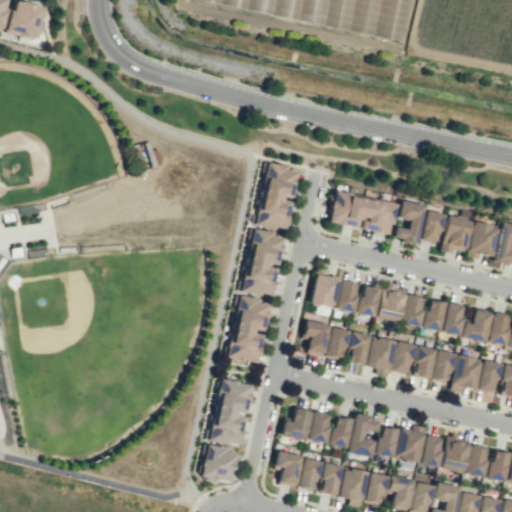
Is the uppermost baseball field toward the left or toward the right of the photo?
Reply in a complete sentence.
The uppermost baseball field sits on the left side.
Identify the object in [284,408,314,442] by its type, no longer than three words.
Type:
house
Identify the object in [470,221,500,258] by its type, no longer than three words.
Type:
house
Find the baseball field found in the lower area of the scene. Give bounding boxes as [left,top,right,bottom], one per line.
[0,250,204,461]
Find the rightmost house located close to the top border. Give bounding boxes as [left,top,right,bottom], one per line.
[8,0,49,36]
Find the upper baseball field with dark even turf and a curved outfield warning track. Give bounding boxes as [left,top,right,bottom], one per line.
[0,62,125,210]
